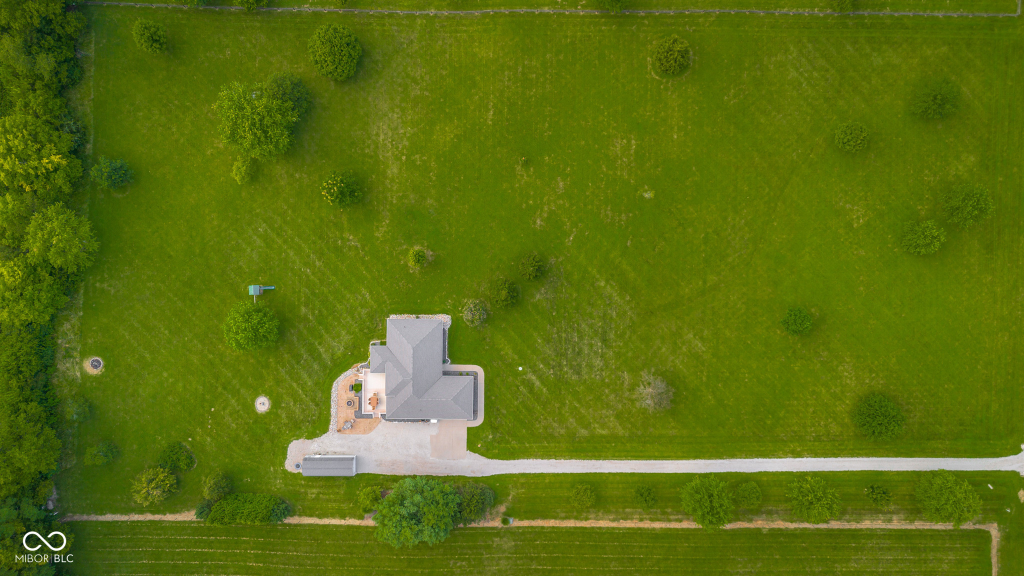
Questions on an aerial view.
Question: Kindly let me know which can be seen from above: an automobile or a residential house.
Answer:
residential house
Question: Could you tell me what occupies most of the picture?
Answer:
grass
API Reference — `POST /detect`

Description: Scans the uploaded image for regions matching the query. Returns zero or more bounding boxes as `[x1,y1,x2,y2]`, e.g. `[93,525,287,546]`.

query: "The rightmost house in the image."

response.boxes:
[370,318,474,420]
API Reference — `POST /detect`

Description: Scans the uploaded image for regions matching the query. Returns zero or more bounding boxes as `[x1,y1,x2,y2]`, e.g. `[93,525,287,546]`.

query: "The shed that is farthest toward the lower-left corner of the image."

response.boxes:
[300,455,357,477]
